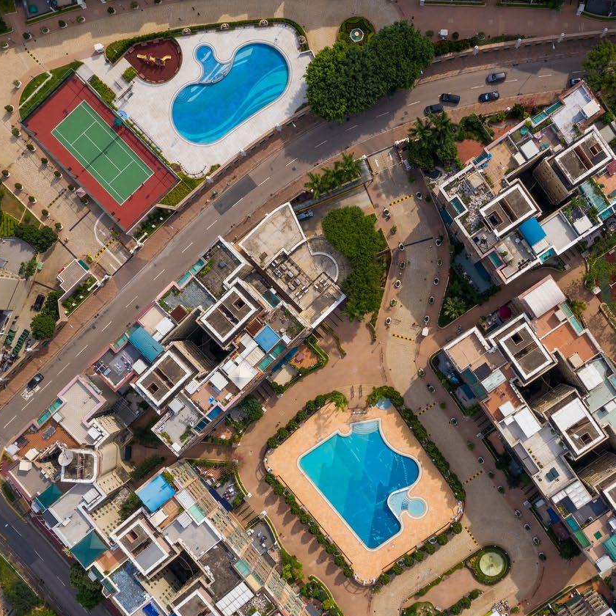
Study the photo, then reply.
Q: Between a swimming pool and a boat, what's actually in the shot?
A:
swimming pool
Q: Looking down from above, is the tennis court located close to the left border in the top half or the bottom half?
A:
top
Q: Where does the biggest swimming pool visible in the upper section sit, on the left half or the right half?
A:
left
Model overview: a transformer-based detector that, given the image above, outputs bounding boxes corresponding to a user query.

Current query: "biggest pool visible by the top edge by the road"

[92,23,313,178]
